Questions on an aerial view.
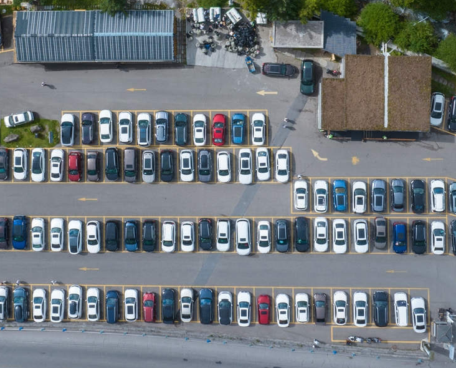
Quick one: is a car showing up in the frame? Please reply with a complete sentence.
Yes, the frame does contain a car.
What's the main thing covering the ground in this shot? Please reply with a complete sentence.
Most of the picture is covered by paved ground.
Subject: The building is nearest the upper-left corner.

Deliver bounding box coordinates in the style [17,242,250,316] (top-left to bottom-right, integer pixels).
[13,10,176,63]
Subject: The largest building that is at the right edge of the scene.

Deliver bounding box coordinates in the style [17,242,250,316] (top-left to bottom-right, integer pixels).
[320,43,433,141]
